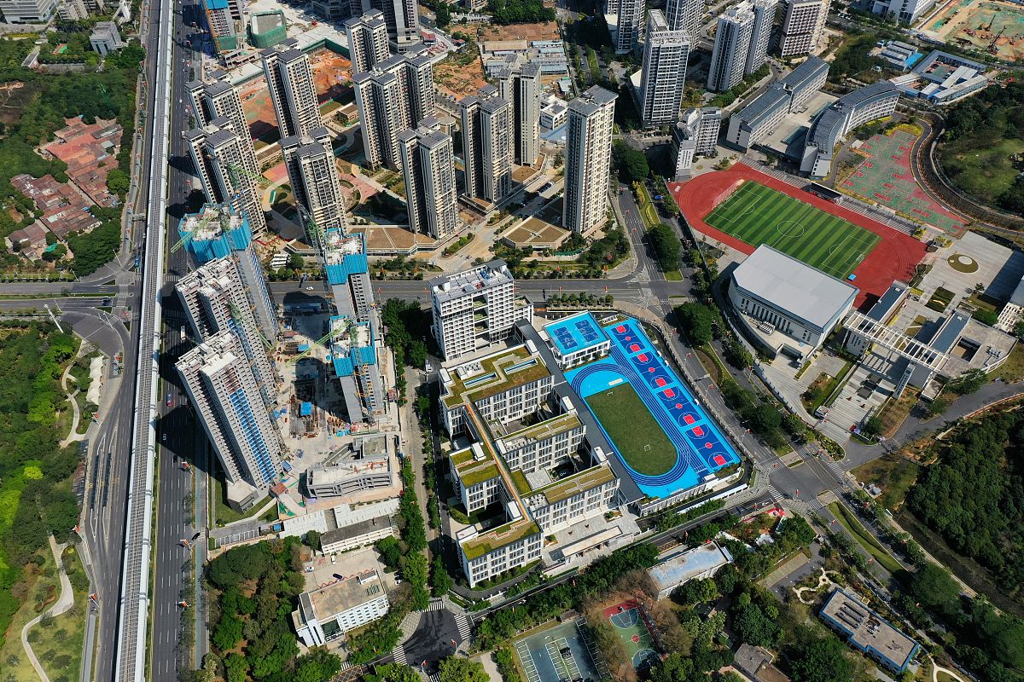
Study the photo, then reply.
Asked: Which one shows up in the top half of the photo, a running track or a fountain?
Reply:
running track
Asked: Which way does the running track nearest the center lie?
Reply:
at an angle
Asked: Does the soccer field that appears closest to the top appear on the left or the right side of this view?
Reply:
right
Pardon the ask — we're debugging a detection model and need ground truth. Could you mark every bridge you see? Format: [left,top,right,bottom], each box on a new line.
[113,0,174,682]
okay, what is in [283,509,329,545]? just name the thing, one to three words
shed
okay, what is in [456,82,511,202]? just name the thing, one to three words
building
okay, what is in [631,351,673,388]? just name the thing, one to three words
basketball court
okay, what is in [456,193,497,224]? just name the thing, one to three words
building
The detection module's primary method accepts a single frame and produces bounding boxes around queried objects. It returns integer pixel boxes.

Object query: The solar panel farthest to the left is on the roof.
[441,275,504,301]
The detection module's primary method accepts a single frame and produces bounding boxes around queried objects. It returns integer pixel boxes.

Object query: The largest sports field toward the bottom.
[563,315,744,508]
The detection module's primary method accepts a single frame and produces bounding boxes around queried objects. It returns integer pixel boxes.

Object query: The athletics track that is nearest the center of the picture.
[572,342,703,483]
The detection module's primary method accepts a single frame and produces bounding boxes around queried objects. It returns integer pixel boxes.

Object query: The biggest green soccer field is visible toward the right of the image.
[700,177,884,281]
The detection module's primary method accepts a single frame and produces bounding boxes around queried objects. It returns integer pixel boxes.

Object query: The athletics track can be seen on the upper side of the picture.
[668,161,927,314]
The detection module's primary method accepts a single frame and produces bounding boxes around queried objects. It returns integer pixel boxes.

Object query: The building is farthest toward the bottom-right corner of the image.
[819,589,919,674]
